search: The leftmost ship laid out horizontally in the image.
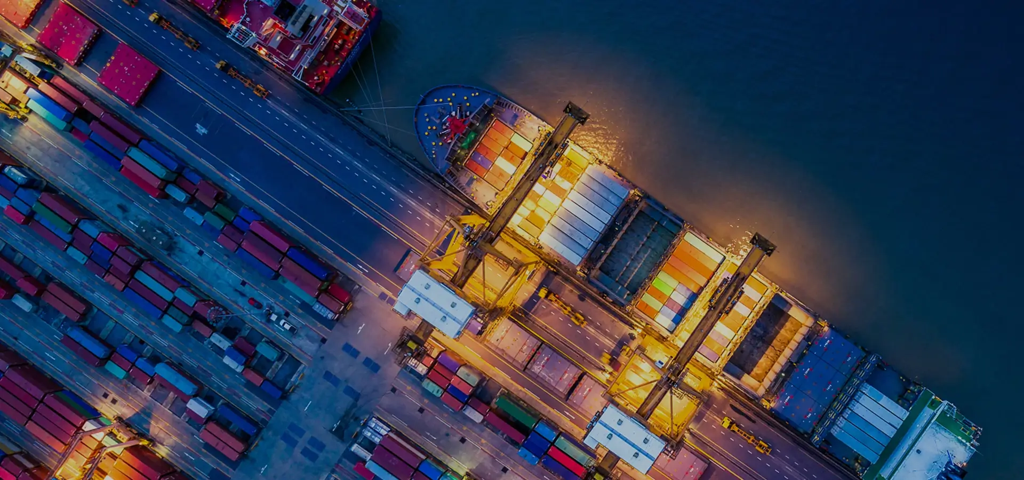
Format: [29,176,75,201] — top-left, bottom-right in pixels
[189,0,380,92]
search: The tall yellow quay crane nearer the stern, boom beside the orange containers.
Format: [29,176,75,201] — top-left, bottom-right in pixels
[578,232,783,480]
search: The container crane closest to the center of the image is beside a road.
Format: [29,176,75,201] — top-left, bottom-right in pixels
[386,98,590,361]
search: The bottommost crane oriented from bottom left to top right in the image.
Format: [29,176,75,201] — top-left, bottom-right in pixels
[51,417,152,480]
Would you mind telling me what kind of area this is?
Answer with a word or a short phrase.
port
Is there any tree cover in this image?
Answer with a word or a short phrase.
No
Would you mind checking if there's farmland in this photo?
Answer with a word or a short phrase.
No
